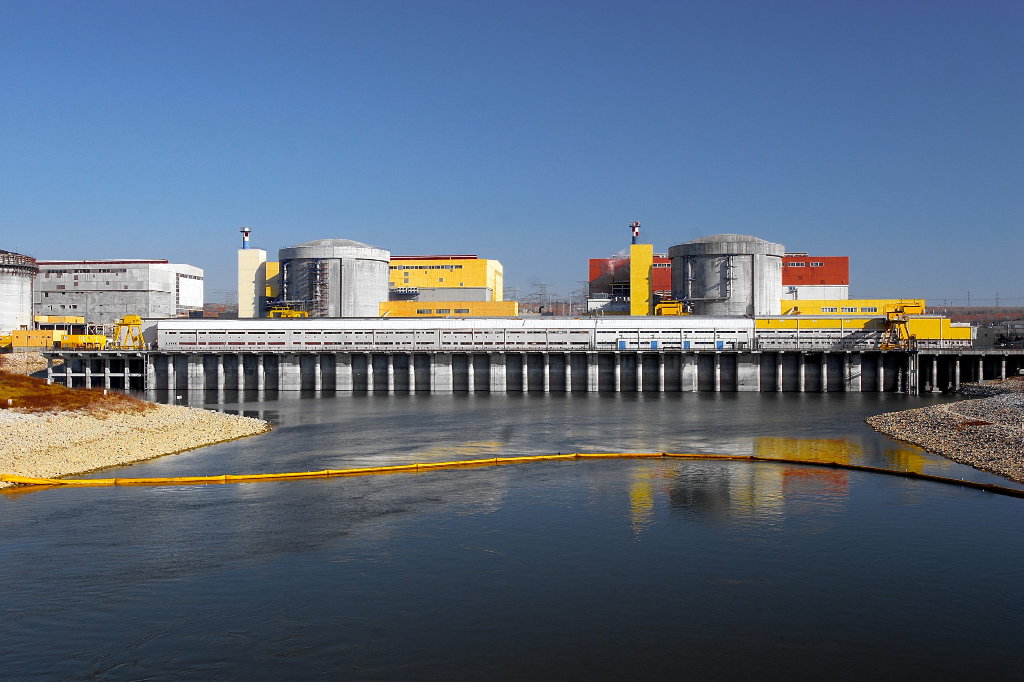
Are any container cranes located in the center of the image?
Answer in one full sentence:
No, the scene shows no container crane in the center of the image.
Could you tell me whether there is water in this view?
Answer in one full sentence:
Yes, some water is visible.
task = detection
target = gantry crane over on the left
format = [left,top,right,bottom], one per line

[112,316,147,350]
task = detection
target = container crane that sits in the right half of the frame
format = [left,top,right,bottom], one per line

[884,311,916,349]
